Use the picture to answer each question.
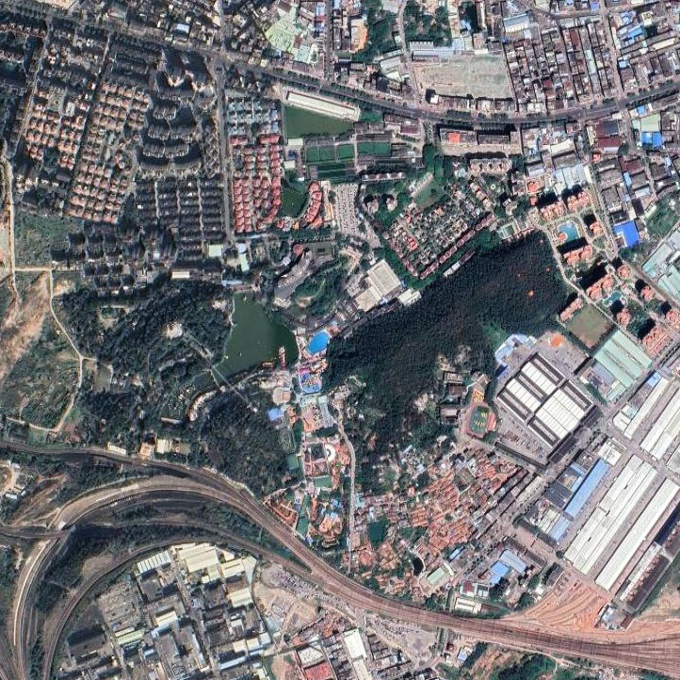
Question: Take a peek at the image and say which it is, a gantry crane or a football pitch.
football pitch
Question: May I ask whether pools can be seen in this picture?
Yes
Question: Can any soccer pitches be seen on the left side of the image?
No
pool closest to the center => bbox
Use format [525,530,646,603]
[308,332,329,354]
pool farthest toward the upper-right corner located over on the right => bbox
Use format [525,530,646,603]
[559,221,579,242]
